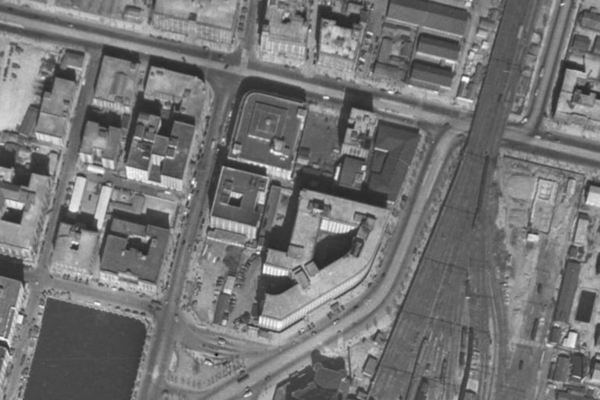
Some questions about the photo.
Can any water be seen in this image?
No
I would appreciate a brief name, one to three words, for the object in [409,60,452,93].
building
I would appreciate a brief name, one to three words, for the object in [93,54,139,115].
building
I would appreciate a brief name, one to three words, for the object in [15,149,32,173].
house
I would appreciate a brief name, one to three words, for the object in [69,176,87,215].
shed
